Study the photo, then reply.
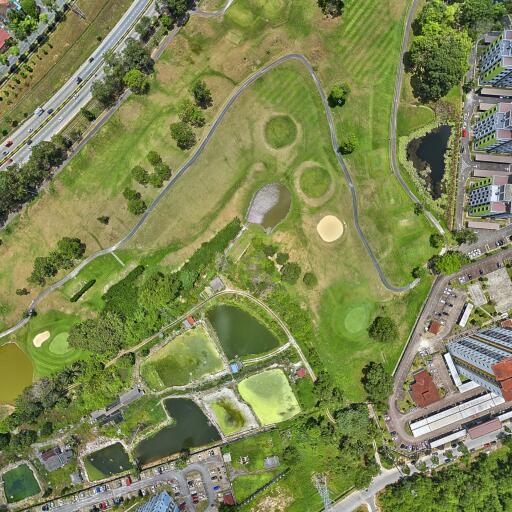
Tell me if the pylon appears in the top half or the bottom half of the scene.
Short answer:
bottom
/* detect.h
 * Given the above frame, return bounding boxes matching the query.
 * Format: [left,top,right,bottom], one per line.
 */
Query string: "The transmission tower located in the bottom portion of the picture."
[312,468,334,512]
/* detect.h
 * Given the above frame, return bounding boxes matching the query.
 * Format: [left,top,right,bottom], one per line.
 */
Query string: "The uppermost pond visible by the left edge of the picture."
[0,342,34,404]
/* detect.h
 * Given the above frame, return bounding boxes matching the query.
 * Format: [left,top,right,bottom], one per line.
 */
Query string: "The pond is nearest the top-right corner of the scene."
[408,124,452,198]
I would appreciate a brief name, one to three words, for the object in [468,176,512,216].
building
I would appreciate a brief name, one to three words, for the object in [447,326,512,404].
building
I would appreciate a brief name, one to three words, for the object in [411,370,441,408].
house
